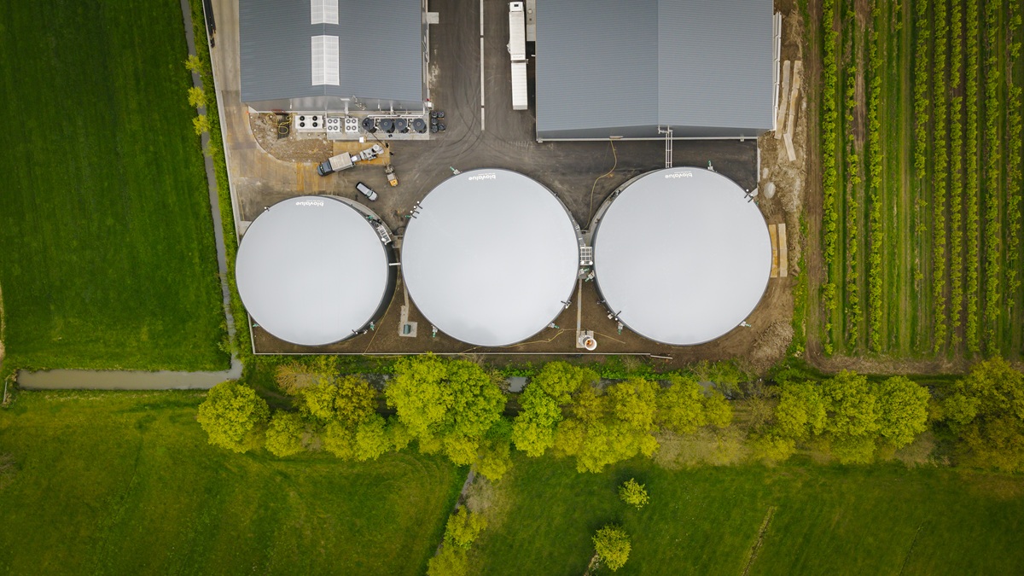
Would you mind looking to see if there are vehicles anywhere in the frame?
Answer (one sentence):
Yes, the image includes a vehicle.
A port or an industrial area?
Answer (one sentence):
This image shows an industrial area.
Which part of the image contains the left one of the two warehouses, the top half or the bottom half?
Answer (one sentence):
Seen from above, the left one of the two warehouses lies in the top half of the view.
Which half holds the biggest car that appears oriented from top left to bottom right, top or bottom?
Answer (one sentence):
The top half of the photo is where the biggest car that appears oriented from top left to bottom right is.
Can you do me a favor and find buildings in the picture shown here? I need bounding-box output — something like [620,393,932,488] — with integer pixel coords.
[240,0,426,114]
[528,0,781,143]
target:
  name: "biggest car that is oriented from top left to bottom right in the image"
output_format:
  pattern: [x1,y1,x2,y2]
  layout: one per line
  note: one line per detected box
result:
[355,180,379,203]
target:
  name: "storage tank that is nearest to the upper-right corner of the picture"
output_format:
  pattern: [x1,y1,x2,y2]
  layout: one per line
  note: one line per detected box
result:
[585,160,772,346]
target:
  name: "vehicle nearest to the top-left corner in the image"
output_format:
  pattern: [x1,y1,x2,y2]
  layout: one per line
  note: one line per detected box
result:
[314,148,353,173]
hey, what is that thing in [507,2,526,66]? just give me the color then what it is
white vehicle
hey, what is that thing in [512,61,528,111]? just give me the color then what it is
white trailer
